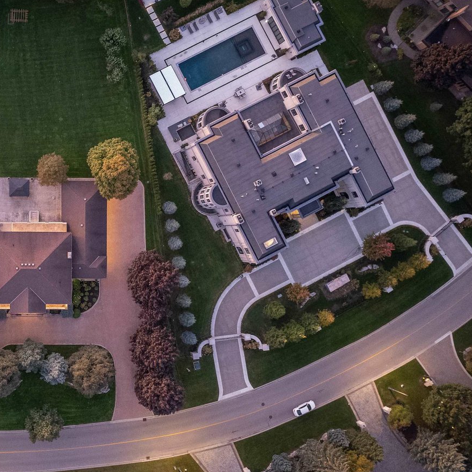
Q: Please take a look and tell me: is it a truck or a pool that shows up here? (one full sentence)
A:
The one in the frame is a pool.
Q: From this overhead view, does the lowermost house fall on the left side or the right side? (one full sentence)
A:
The lowermost house is on the left side of the image.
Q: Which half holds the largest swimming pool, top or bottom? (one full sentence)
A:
Seen from above, the largest swimming pool lies in the top half of the view.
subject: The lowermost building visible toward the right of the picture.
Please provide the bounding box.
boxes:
[174,64,394,264]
